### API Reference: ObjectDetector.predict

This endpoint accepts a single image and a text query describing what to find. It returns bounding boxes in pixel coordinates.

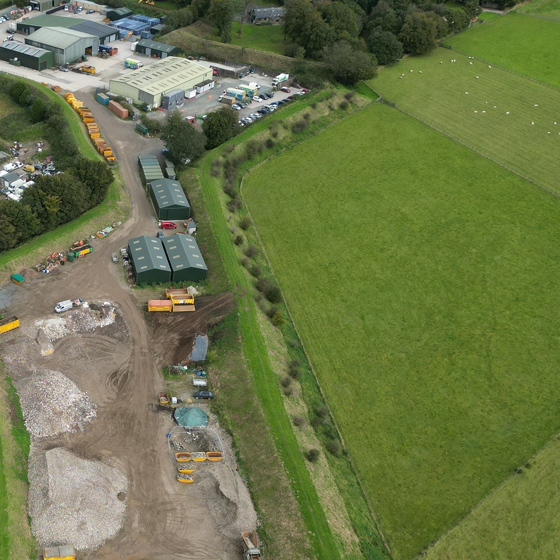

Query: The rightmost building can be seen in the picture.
[253,8,288,26]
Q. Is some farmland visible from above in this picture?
Yes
